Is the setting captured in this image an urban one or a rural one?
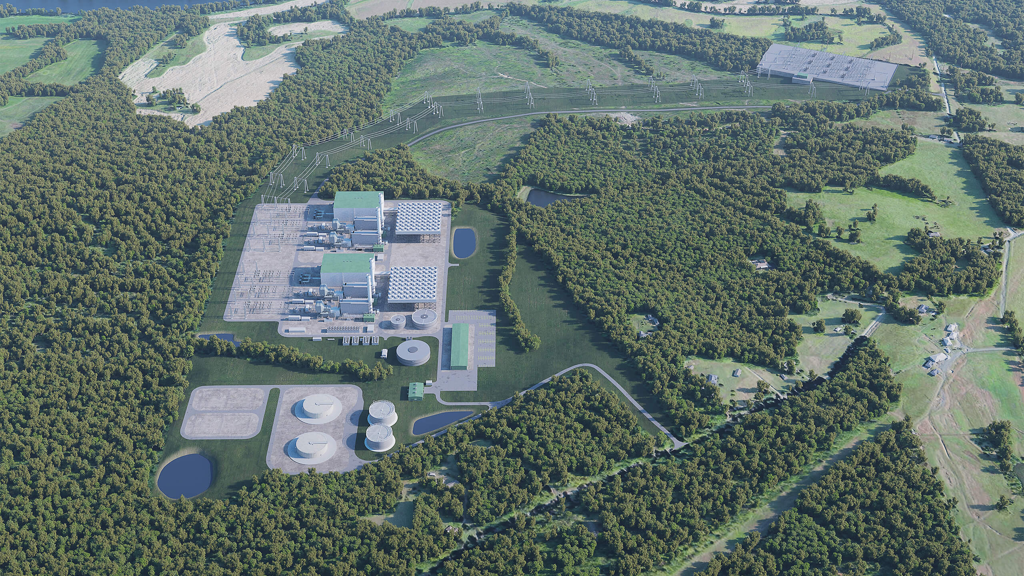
rural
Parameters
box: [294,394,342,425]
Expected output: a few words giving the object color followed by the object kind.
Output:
white storage tank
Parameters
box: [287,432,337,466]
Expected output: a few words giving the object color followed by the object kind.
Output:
white storage tank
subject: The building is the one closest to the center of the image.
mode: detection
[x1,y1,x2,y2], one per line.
[450,322,469,370]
